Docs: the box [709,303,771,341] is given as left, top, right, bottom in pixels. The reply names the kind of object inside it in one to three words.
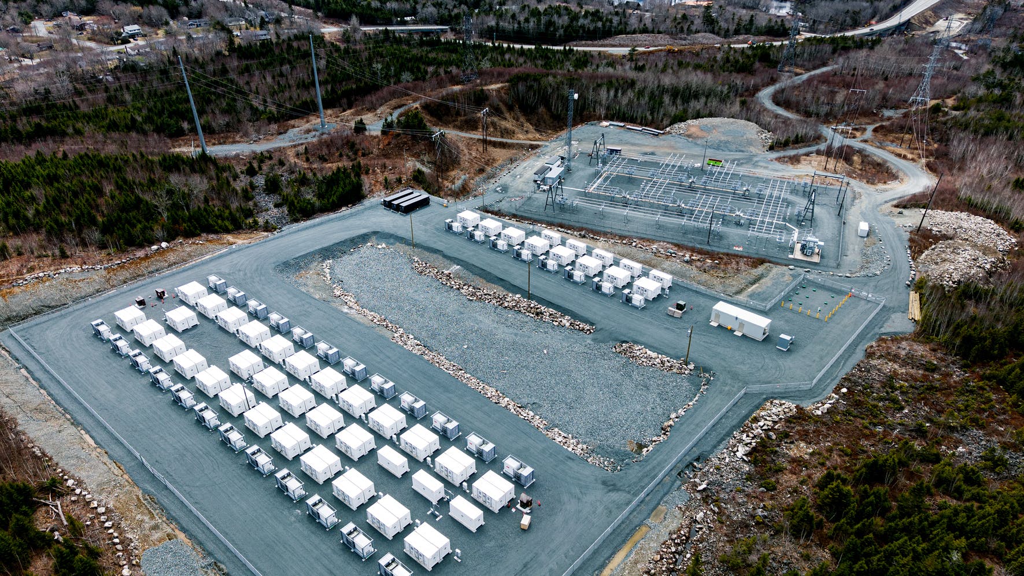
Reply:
building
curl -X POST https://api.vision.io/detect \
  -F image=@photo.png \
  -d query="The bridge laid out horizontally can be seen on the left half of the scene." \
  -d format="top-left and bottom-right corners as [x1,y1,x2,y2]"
[338,25,456,38]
